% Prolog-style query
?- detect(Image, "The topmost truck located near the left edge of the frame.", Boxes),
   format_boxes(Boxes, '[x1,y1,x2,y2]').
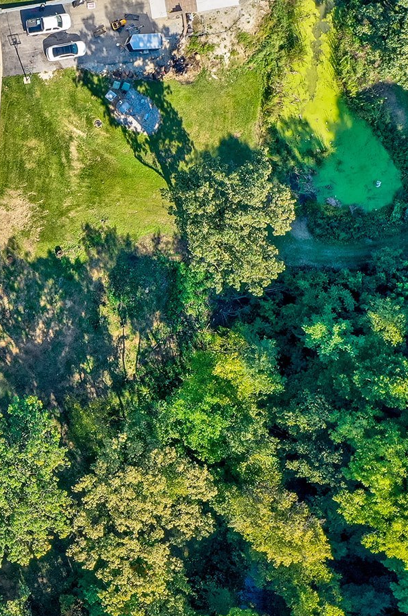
[20,12,72,37]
